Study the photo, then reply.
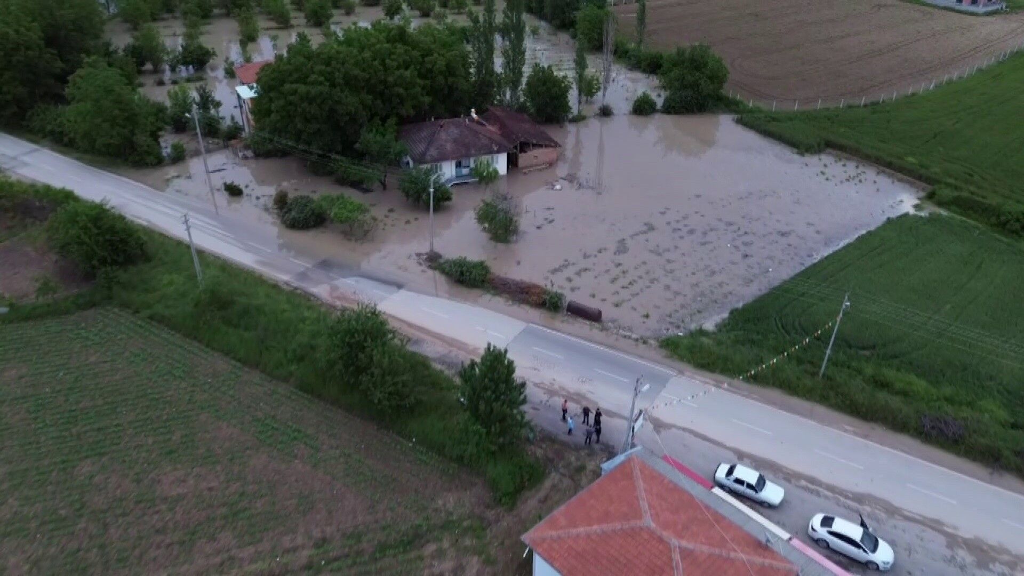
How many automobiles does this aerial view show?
2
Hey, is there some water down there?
Yes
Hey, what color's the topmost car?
white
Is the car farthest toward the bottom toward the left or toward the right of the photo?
right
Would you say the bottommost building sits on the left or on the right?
right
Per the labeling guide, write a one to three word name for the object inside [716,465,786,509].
car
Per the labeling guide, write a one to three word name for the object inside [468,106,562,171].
barn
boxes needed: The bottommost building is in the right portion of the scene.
[508,442,827,576]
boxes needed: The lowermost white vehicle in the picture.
[813,514,896,570]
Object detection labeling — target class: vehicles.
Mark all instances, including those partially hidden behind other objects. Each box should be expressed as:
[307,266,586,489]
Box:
[813,514,896,570]
[716,465,786,509]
